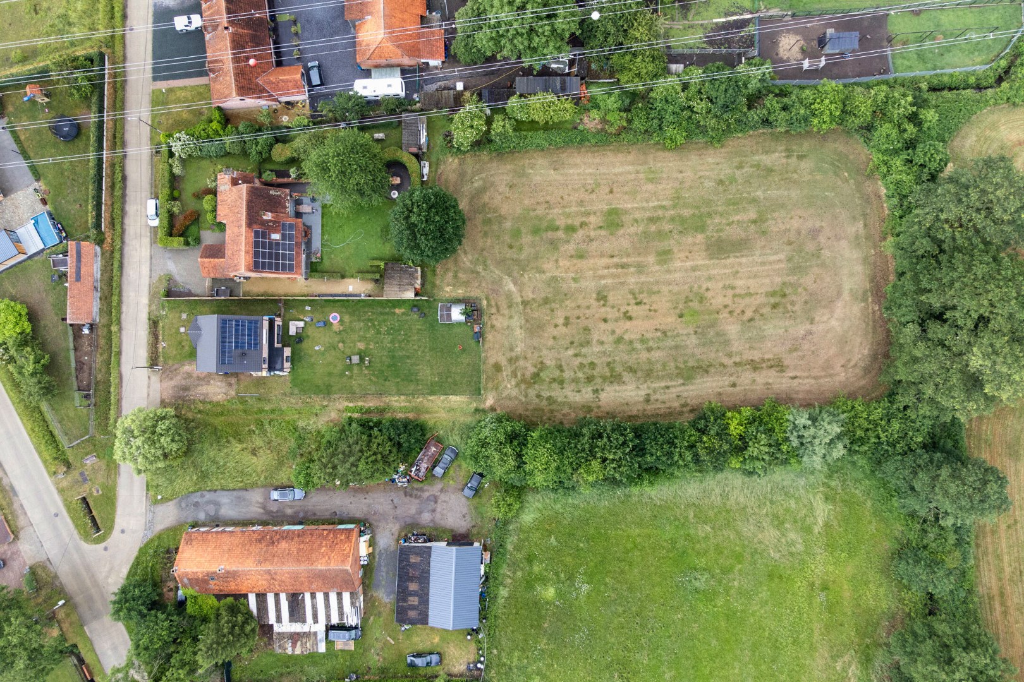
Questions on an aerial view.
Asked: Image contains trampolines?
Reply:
Yes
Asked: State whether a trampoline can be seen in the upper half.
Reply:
Yes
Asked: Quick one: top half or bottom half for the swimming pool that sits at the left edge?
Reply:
top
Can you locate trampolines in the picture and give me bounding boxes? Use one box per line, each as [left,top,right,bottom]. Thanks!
[41,111,78,142]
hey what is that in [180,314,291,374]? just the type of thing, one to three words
house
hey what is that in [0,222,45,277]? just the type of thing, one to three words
building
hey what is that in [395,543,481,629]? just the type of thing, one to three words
shed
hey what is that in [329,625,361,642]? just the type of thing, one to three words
car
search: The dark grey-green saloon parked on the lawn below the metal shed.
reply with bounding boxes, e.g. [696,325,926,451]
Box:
[407,652,440,668]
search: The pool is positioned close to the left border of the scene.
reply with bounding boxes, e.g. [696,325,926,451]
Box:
[30,212,59,249]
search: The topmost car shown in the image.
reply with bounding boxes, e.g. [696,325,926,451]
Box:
[173,15,203,32]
